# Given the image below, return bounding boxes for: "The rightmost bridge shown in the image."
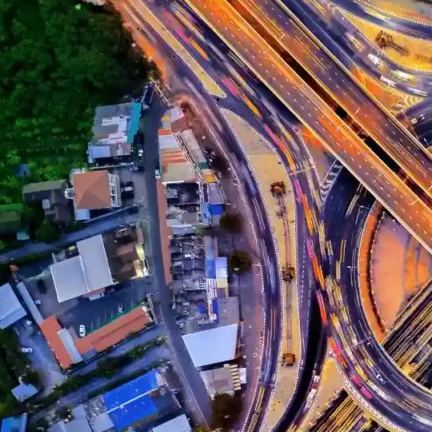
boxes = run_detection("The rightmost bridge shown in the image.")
[329,336,432,432]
